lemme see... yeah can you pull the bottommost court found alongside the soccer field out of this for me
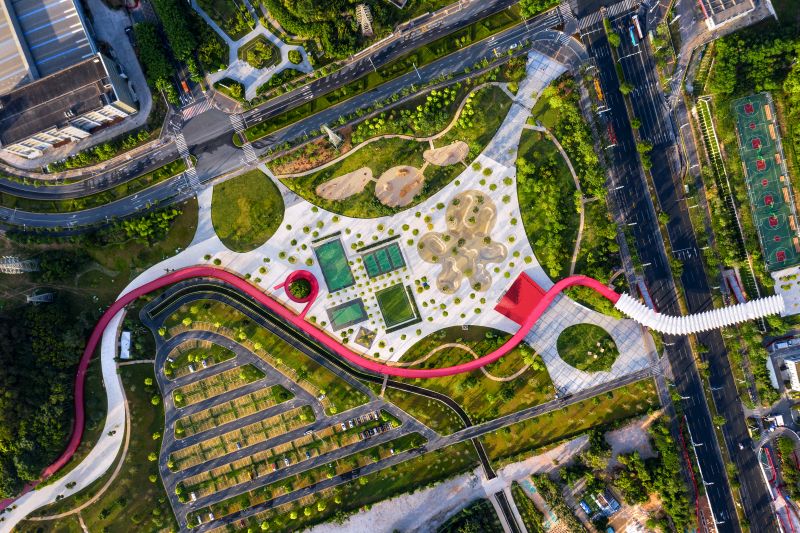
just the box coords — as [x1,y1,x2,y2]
[326,298,369,331]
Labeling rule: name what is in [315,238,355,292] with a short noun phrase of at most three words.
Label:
sports court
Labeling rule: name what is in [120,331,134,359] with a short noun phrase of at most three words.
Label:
shed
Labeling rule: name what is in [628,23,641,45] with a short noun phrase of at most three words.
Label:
vehicle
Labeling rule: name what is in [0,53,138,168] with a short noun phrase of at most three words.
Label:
building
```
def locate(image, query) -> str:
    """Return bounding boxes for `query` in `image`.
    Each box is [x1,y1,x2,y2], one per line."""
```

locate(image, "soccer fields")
[375,282,417,330]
